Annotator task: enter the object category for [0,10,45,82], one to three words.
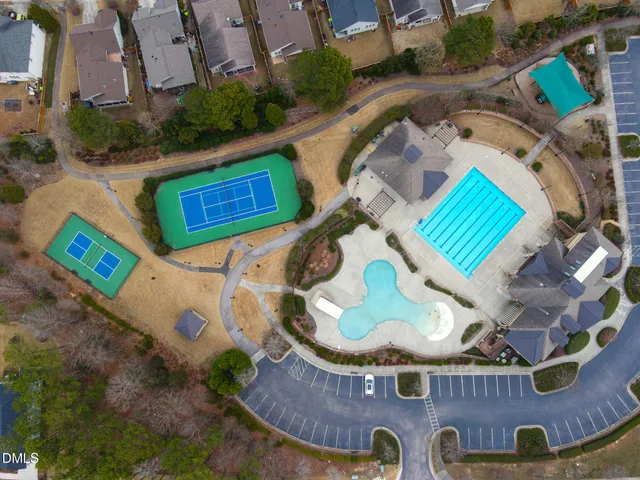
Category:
house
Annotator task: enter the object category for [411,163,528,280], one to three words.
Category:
swimming pool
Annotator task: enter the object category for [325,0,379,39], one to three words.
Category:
house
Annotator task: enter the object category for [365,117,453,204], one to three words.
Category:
building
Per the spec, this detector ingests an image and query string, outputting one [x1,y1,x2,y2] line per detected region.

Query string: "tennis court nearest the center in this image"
[149,149,302,249]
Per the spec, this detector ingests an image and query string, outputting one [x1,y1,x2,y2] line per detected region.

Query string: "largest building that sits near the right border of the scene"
[502,226,624,366]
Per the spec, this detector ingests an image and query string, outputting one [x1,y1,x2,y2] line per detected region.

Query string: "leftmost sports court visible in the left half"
[41,212,141,300]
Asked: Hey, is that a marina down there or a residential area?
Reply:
residential area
